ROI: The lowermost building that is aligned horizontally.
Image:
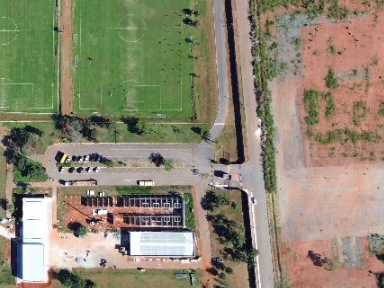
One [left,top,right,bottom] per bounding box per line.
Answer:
[129,230,194,256]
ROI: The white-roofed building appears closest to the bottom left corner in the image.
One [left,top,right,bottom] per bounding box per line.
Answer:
[22,242,44,281]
